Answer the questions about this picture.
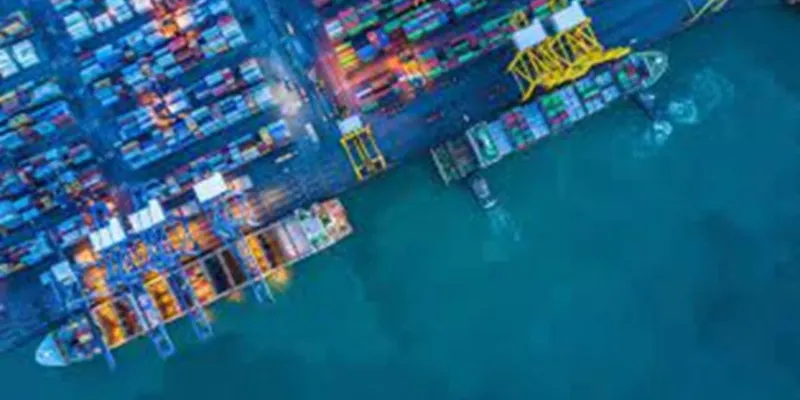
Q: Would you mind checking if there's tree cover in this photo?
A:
No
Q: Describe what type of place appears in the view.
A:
port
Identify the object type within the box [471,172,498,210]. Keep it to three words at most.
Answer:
boat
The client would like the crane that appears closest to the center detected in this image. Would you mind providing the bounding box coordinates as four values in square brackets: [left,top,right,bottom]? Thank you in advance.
[336,109,390,182]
